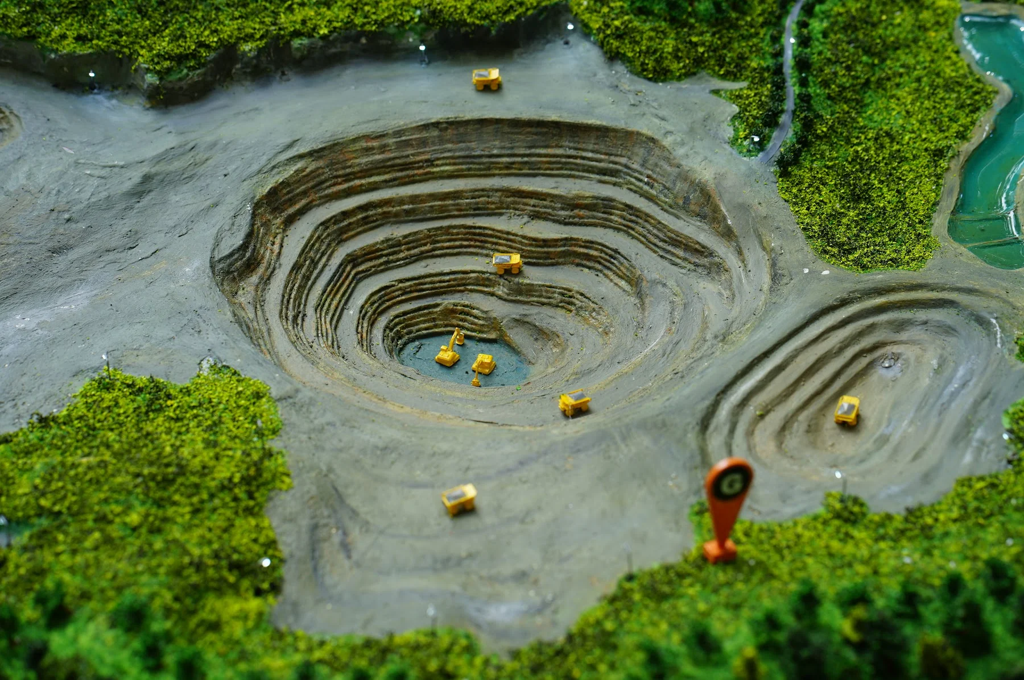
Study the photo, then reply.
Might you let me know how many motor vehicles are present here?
7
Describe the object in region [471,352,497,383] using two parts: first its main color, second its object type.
yellow work vehicle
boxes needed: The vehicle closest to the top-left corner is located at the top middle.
[475,69,500,89]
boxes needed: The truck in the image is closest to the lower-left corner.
[442,485,477,515]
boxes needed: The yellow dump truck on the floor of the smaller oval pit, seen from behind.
[837,397,859,426]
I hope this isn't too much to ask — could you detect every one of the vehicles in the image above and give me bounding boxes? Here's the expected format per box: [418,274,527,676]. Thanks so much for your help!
[442,485,477,515]
[471,352,497,383]
[558,388,590,415]
[494,252,521,273]
[475,69,500,89]
[434,332,464,369]
[837,397,859,426]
